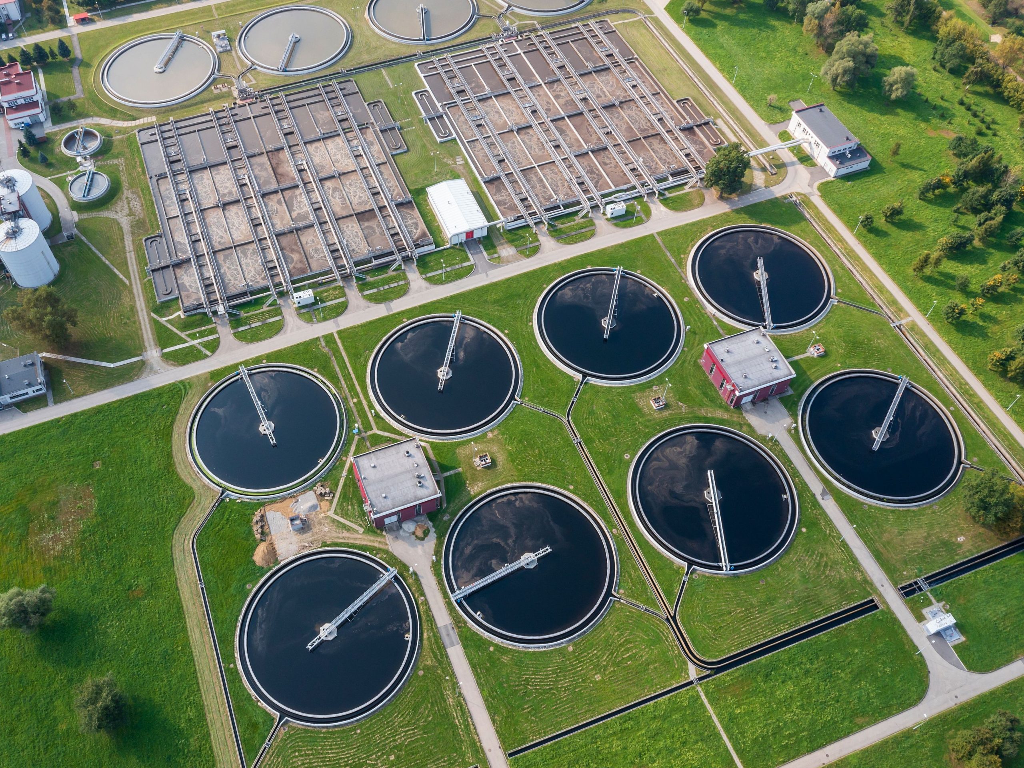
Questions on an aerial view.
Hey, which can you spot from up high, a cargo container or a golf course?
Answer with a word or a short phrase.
cargo container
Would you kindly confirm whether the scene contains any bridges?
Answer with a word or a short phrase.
Yes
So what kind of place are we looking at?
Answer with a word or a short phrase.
industrial area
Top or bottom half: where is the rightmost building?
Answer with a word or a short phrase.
top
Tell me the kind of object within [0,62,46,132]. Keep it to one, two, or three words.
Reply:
building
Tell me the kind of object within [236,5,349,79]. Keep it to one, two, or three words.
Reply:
storage tank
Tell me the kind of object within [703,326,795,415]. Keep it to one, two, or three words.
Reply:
building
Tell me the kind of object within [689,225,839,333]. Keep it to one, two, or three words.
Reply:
storage tank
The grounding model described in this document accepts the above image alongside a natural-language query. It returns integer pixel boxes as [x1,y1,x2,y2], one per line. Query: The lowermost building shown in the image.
[352,437,442,537]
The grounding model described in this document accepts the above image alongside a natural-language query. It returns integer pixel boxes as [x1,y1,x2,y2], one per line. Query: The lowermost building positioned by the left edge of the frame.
[0,353,51,414]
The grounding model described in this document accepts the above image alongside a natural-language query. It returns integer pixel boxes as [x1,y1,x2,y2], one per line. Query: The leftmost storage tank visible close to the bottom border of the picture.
[236,547,421,731]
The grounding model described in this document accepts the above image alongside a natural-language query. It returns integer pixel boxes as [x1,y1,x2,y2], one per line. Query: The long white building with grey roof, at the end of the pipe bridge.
[788,102,872,179]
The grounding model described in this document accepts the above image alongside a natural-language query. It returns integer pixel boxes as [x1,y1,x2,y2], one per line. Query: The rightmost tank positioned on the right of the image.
[798,369,972,508]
